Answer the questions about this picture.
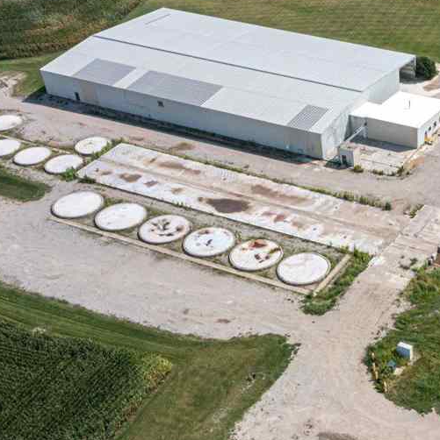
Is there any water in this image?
No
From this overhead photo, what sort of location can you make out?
industrial area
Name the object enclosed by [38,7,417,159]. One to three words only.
shed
